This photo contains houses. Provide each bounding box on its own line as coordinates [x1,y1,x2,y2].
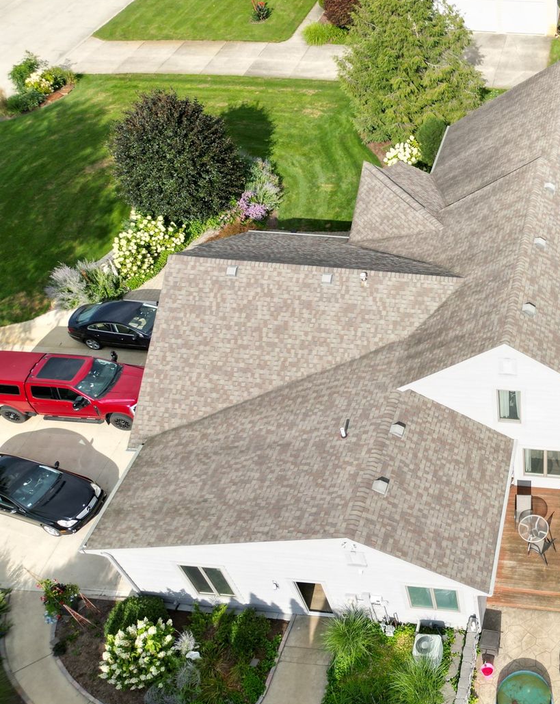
[76,61,560,637]
[430,0,560,36]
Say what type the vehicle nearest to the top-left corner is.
car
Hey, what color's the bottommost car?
black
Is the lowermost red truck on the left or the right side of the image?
left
